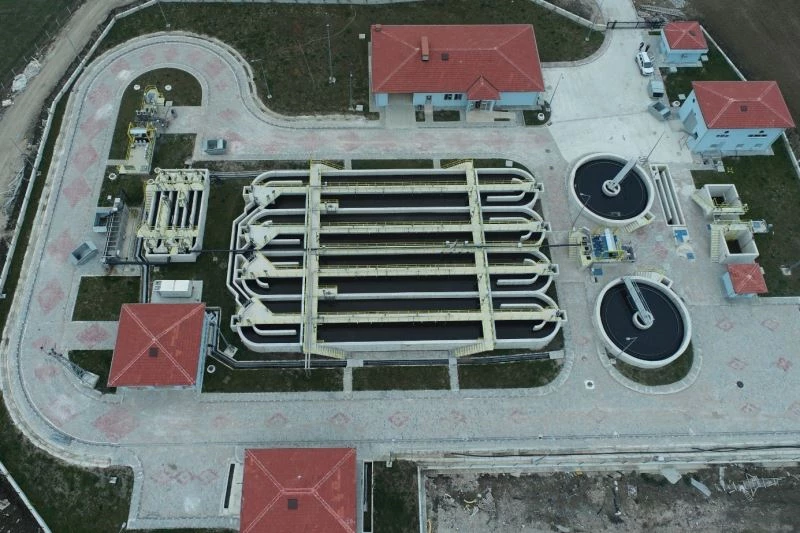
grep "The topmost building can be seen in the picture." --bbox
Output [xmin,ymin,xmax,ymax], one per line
[660,21,709,66]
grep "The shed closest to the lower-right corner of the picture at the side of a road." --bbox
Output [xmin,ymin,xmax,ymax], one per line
[720,263,770,299]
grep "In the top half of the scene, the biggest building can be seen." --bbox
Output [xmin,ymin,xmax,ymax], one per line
[370,23,545,119]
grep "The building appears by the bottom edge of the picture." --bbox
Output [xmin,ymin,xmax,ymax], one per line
[238,445,358,533]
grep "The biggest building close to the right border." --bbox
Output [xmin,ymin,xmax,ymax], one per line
[677,80,797,156]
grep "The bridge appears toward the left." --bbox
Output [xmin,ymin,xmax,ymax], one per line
[304,156,320,356]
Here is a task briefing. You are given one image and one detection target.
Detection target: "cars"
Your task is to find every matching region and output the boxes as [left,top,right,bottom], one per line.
[640,53,661,76]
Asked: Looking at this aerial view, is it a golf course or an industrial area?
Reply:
industrial area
